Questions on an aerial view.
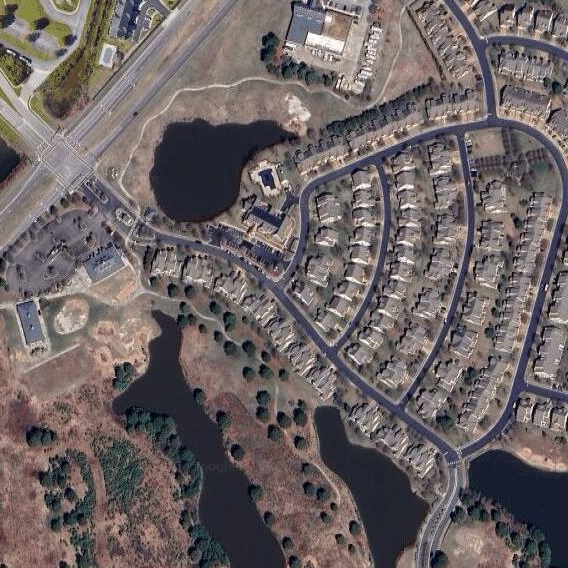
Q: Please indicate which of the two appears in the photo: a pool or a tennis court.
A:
pool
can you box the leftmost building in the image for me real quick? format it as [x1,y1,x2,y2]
[18,302,45,346]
